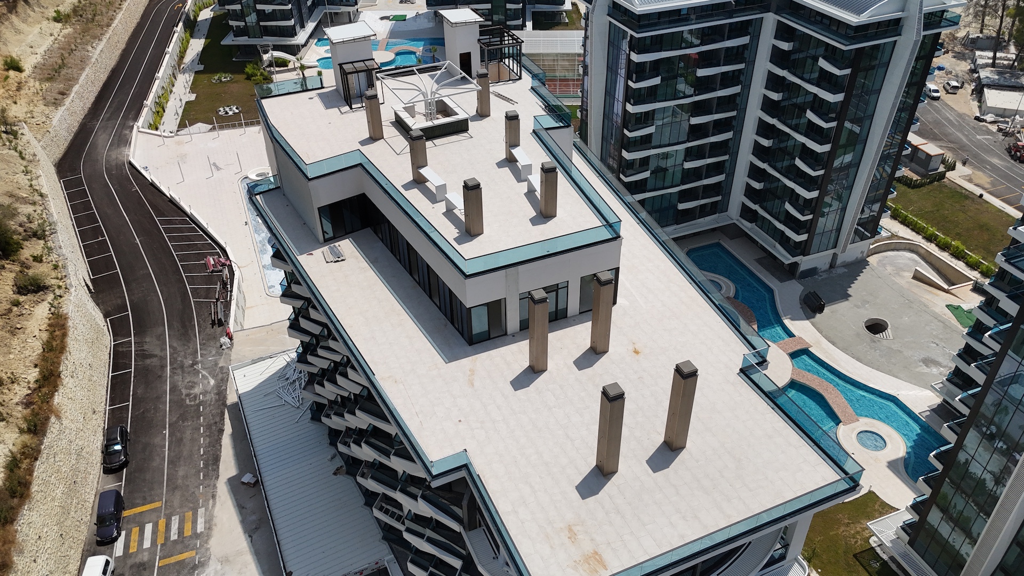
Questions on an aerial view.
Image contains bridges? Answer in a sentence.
Yes, there is a bridge in the image.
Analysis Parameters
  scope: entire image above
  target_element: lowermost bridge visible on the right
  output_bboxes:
[790,367,857,425]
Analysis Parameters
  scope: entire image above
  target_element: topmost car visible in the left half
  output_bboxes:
[98,423,129,471]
